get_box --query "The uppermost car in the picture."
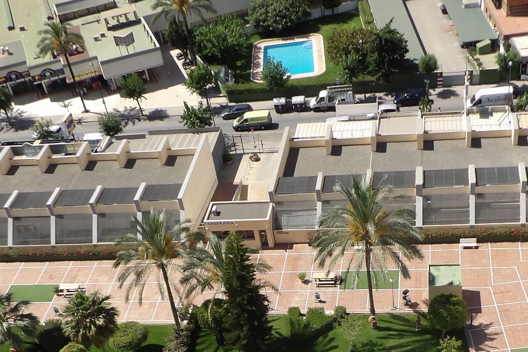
[437,1,451,19]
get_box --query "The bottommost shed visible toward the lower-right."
[428,265,462,304]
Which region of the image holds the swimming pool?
top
